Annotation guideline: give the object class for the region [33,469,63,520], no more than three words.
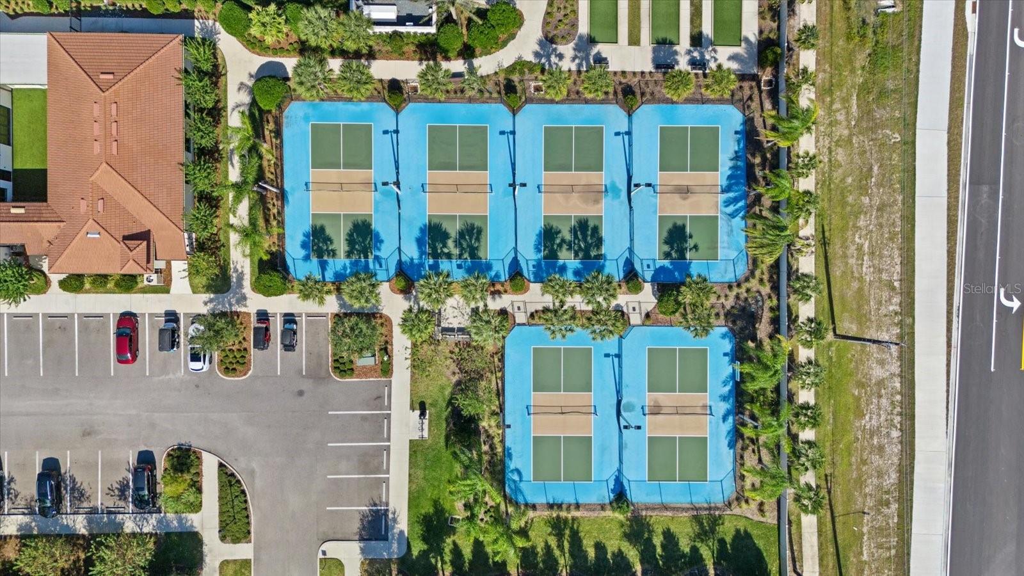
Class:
car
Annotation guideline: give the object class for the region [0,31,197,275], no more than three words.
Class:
building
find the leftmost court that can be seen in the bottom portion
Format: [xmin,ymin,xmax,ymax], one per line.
[505,326,621,504]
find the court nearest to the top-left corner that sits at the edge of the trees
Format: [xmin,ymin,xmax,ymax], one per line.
[283,101,403,281]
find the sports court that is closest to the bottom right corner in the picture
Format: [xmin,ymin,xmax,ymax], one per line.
[621,327,736,504]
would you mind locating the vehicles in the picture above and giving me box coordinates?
[129,464,156,513]
[158,327,179,353]
[254,325,273,350]
[112,315,138,365]
[33,469,63,520]
[186,321,211,373]
[281,324,300,353]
